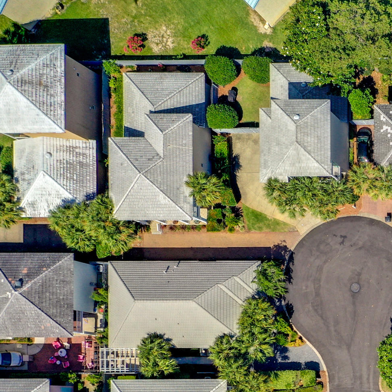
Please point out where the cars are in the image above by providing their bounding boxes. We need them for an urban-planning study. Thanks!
[354,126,373,165]
[0,349,26,368]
